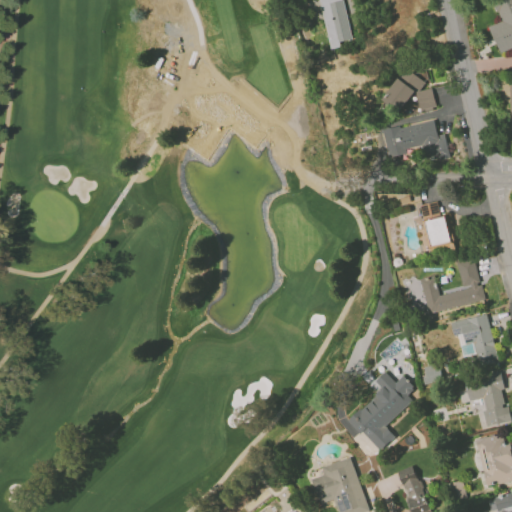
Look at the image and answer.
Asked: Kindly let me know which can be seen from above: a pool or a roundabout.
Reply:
pool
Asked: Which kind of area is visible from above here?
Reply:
golf course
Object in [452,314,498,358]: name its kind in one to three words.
house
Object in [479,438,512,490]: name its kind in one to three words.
house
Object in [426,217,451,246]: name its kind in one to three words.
building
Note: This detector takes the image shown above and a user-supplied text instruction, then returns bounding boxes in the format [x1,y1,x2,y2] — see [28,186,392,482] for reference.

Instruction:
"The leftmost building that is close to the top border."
[324,0,353,49]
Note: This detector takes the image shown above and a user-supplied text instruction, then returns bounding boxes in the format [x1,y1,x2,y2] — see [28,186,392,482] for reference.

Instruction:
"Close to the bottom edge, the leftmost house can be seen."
[312,458,370,512]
